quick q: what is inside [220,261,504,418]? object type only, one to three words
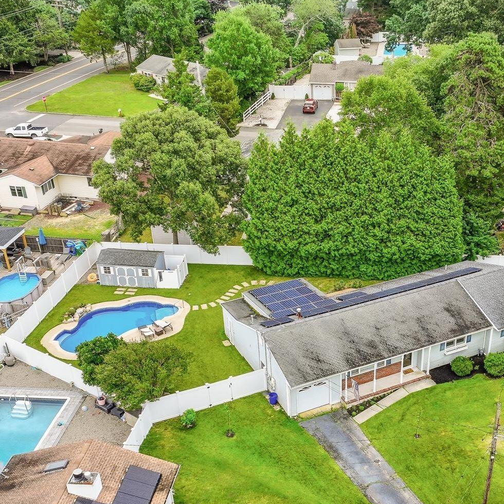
house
